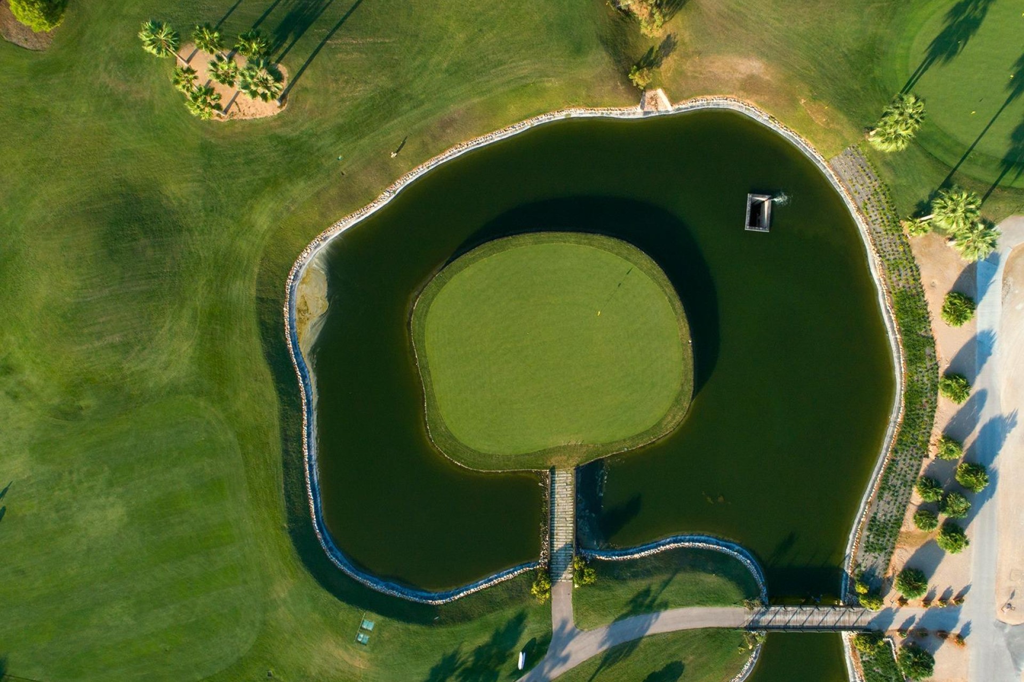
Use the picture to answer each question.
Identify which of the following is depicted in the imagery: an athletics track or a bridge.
bridge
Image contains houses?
No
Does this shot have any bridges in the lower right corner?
Yes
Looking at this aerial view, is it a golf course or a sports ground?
golf course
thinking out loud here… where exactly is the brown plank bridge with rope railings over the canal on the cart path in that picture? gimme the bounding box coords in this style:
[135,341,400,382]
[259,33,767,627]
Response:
[745,604,879,637]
